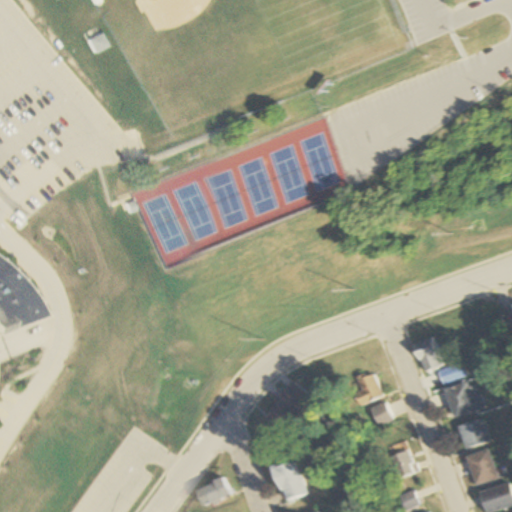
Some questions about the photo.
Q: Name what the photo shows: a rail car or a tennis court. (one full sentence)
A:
It is a tennis court that can be seen here.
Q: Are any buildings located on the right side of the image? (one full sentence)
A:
Yes, there is a building on the right side of the image.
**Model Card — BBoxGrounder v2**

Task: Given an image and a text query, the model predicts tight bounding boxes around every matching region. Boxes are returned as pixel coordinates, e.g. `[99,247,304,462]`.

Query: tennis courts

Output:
[238,157,281,217]
[143,194,187,254]
[300,132,344,192]
[174,182,218,242]
[206,169,250,230]
[268,144,312,204]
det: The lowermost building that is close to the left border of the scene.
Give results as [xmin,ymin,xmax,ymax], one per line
[0,252,54,333]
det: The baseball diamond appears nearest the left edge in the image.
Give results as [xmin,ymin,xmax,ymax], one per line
[136,0,210,32]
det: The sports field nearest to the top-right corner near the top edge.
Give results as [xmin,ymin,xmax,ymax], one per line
[259,0,404,90]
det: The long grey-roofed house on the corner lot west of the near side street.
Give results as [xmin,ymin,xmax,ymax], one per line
[198,476,238,506]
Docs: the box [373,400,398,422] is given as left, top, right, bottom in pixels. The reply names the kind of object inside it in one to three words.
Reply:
building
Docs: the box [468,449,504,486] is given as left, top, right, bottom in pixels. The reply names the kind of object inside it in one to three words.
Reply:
house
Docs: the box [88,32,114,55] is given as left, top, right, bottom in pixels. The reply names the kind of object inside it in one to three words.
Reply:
shed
